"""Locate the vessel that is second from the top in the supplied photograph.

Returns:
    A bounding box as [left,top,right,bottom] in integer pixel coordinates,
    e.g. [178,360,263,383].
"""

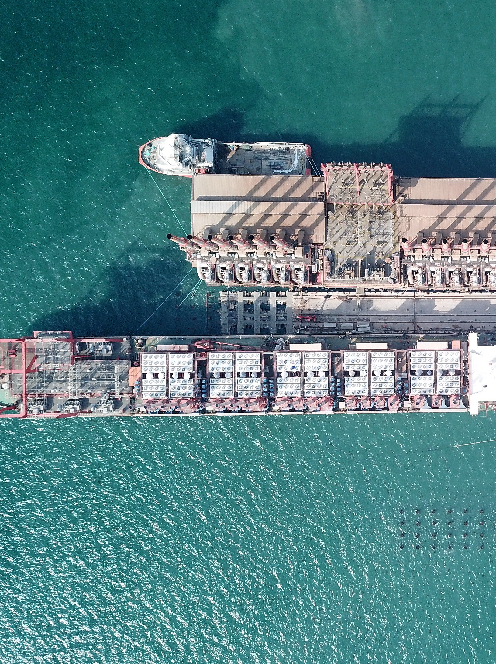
[165,159,496,311]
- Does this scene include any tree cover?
No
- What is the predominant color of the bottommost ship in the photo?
white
